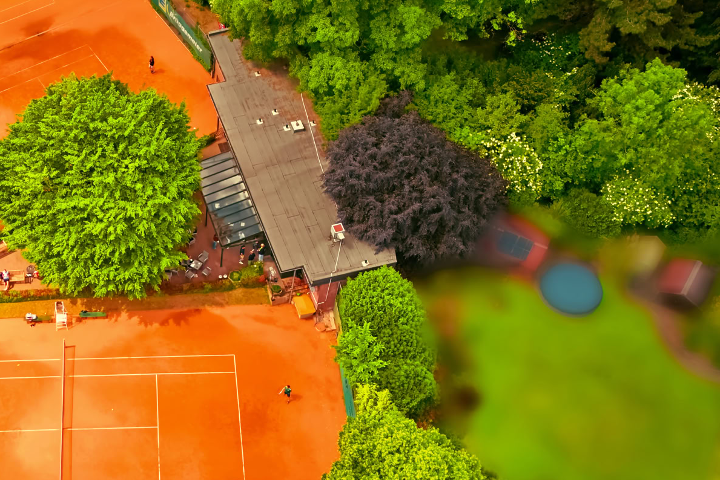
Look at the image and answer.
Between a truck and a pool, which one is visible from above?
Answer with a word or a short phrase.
pool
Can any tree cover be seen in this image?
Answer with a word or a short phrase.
Yes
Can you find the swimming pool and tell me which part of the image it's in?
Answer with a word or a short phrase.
right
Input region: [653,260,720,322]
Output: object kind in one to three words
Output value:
shed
